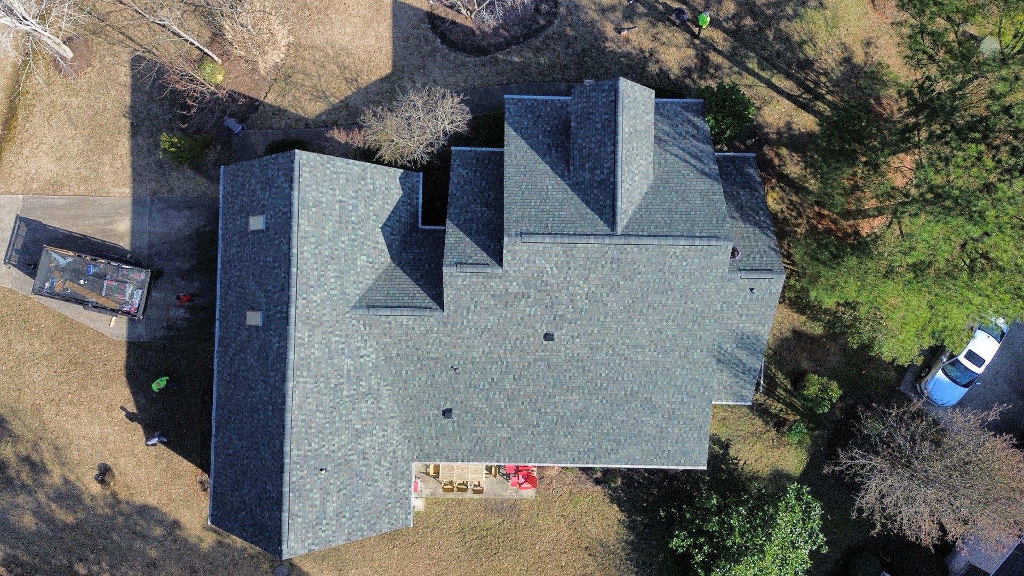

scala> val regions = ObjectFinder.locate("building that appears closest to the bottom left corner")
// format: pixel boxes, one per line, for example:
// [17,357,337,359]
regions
[204,77,785,559]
